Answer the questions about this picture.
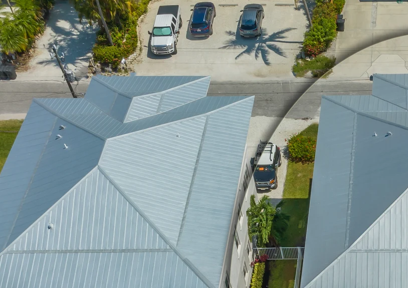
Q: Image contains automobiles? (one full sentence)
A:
Yes, I can see an automobile in this picture.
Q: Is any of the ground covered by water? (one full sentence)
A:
No, there's no water in this view.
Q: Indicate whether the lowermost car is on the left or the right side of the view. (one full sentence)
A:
The lowermost car sits on the right side.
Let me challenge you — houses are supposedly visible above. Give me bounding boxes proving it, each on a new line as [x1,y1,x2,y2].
[0,74,262,288]
[300,73,408,288]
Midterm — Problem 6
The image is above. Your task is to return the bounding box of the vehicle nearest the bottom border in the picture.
[251,131,284,184]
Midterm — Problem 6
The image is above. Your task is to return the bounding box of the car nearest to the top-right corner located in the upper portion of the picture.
[238,1,262,33]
